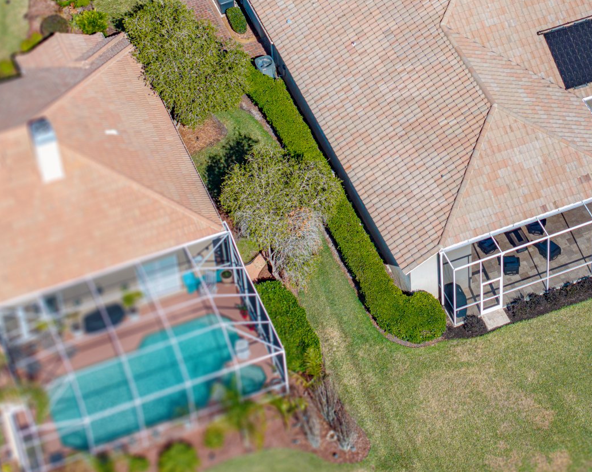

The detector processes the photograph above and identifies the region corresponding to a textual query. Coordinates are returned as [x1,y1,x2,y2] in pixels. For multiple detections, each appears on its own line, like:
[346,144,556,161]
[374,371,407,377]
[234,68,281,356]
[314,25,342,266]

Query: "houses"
[240,0,592,303]
[0,25,228,343]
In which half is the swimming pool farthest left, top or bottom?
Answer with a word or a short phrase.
bottom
